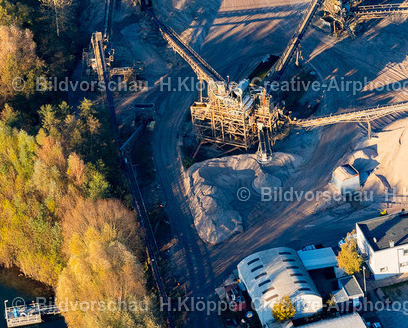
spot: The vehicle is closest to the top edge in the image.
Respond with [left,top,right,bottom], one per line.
[324,231,356,249]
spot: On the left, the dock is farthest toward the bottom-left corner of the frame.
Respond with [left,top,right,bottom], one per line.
[4,291,42,326]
